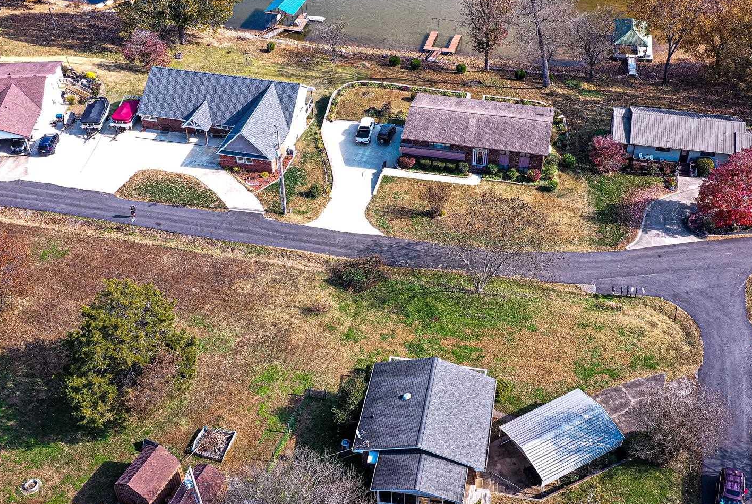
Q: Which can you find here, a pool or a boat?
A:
boat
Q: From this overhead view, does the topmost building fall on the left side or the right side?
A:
right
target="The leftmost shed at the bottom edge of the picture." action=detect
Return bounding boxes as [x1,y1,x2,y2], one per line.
[114,444,181,504]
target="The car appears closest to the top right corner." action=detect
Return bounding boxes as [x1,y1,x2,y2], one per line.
[376,120,397,140]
